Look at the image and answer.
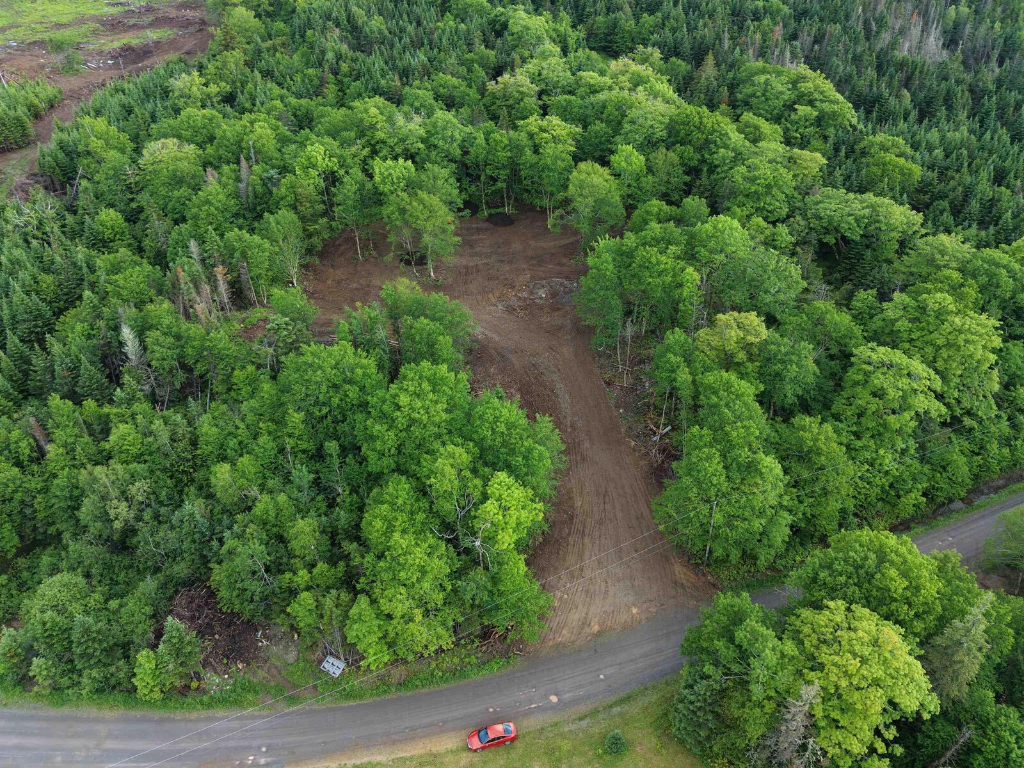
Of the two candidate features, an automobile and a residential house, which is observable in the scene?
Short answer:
automobile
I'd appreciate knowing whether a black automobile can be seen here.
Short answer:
No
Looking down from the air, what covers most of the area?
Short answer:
trees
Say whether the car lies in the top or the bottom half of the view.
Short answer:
bottom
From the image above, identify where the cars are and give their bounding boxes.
[466,720,517,753]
